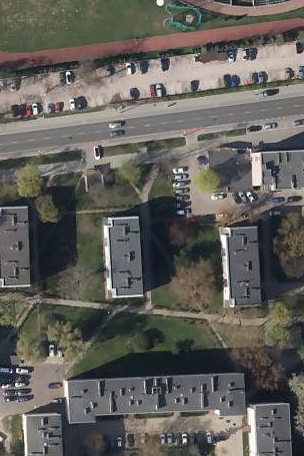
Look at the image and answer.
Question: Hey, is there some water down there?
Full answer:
No, there's no water in this view.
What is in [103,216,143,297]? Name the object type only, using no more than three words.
building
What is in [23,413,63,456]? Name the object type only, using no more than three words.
building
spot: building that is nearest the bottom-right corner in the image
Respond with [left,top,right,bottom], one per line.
[248,402,291,456]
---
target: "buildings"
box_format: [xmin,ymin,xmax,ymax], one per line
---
[65,373,245,424]
[250,150,304,192]
[248,402,291,456]
[0,207,31,287]
[224,227,261,307]
[23,413,63,456]
[103,216,143,297]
